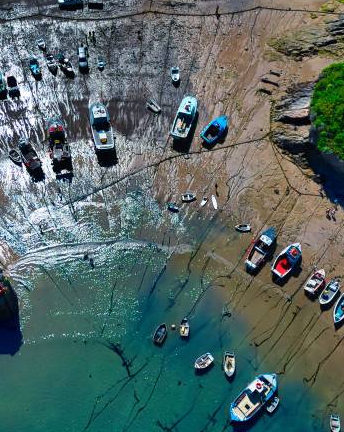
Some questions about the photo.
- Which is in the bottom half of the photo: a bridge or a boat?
boat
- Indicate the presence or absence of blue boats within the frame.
Yes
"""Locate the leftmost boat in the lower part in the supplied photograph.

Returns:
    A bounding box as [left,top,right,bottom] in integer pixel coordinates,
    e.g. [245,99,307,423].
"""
[151,323,167,345]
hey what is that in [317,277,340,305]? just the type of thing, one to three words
boat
